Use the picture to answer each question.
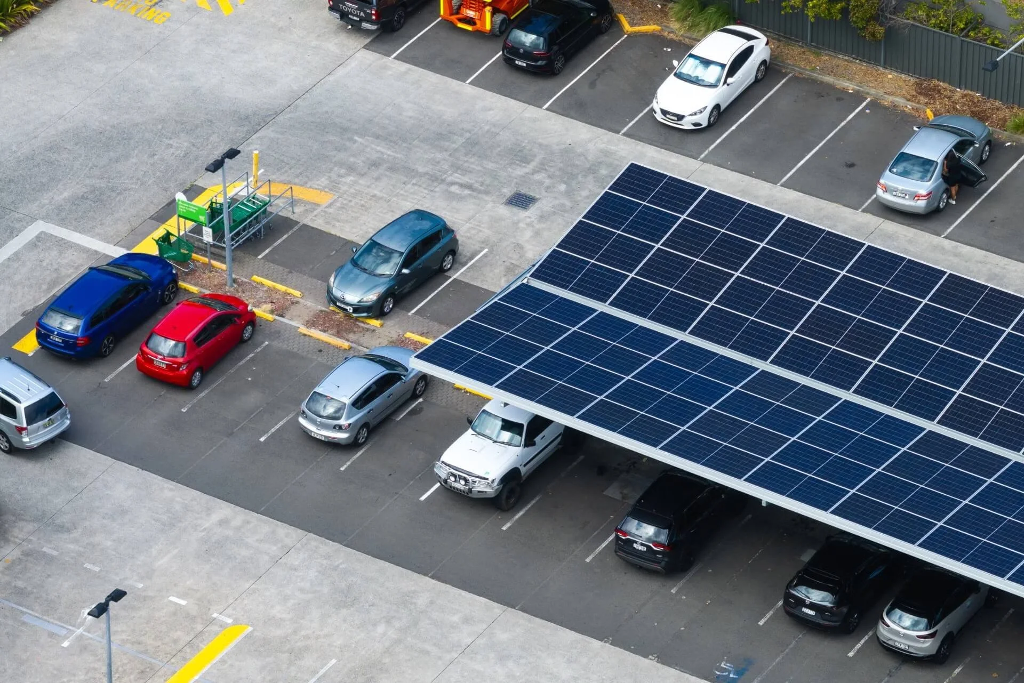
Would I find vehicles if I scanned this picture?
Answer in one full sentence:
Yes, there's a vehicle down there.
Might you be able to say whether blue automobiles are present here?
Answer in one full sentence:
Yes, a blue automobile can be made out from above.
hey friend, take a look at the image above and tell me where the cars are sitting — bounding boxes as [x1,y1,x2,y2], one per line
[500,0,613,74]
[607,468,739,573]
[137,294,254,388]
[876,115,994,218]
[0,356,71,452]
[876,564,996,664]
[297,347,427,446]
[432,402,578,508]
[654,25,773,129]
[328,211,458,316]
[33,253,180,363]
[784,532,908,635]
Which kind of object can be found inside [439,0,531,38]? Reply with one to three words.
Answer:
work vehicle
